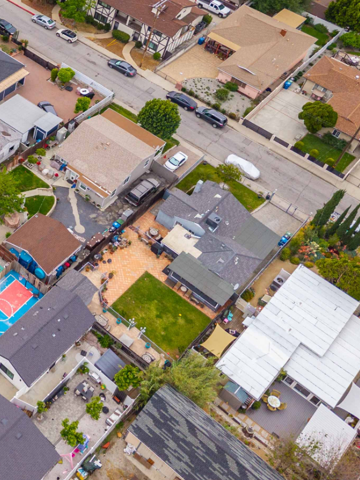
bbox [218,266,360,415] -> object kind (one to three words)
house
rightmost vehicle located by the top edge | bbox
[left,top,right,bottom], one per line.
[195,0,232,18]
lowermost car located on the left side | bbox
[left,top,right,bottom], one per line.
[123,175,163,207]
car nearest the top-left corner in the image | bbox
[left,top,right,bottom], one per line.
[0,18,18,36]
